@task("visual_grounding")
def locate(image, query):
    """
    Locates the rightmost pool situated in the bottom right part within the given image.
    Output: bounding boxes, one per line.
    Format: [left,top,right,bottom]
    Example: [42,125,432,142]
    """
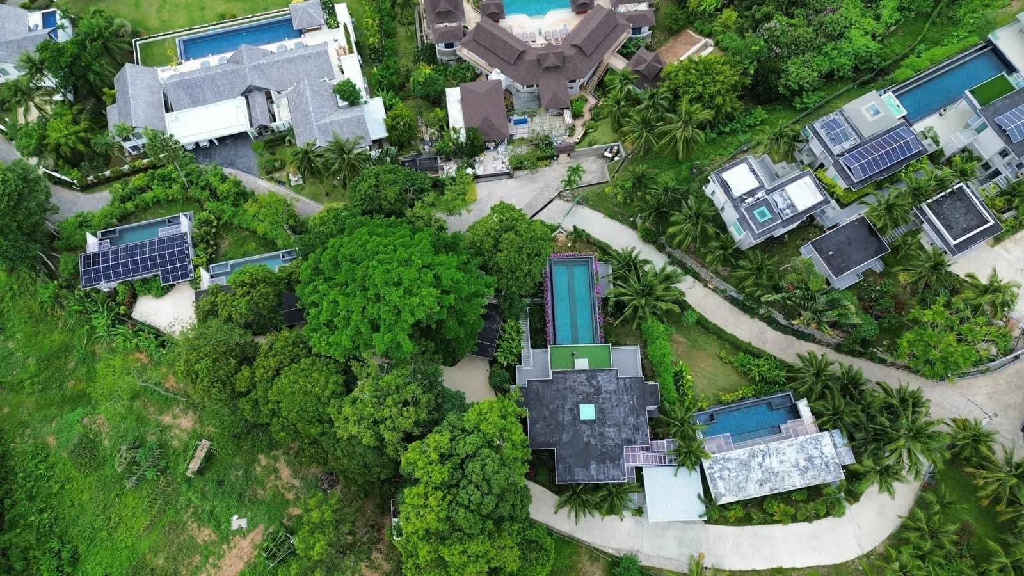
[695,393,795,453]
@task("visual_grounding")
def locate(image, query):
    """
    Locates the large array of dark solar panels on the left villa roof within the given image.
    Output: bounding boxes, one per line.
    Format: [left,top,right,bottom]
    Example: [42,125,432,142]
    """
[82,235,189,285]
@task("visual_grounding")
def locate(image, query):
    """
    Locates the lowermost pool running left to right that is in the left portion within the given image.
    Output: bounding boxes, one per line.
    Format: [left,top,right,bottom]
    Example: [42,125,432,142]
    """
[208,248,301,281]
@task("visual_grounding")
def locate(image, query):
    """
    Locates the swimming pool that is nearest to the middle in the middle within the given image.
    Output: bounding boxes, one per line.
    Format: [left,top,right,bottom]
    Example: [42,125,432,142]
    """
[549,256,600,346]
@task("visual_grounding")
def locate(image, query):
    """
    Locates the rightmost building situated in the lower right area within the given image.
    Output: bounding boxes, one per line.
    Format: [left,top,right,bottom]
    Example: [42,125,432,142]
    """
[699,432,855,505]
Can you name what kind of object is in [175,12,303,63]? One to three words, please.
swimming pool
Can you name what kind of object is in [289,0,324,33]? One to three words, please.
building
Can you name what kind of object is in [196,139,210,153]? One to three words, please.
car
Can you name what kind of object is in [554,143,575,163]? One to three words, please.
shed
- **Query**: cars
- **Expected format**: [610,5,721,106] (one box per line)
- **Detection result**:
[196,139,210,153]
[181,143,194,154]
